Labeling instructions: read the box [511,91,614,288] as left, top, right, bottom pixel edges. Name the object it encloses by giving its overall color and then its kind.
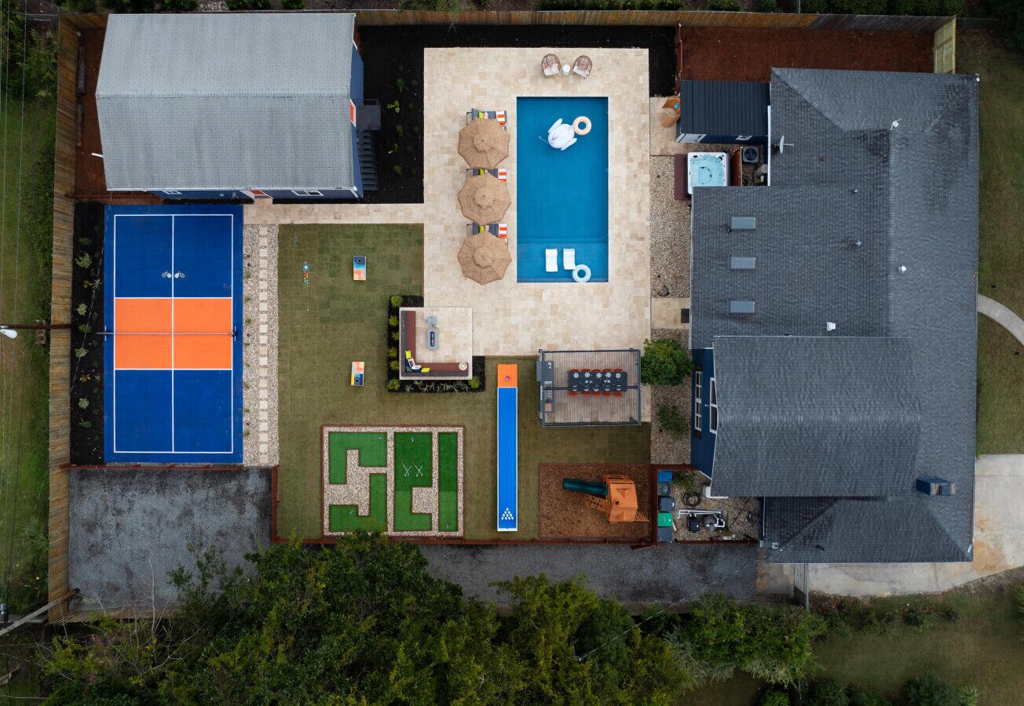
blue swimming pool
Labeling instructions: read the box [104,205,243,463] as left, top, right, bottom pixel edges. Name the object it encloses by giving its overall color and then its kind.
blue sports court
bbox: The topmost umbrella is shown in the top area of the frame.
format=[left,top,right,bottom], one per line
[458,117,510,169]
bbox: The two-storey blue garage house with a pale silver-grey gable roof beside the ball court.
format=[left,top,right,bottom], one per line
[96,13,387,204]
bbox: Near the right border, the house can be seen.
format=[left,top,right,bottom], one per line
[689,67,980,564]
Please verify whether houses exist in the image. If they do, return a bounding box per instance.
[96,13,387,204]
[689,67,980,564]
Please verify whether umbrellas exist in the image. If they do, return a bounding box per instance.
[456,229,512,284]
[458,117,510,169]
[456,169,512,225]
